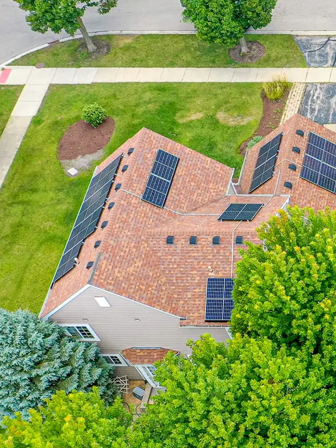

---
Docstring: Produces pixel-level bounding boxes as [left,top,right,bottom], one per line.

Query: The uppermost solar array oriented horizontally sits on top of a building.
[219,203,268,217]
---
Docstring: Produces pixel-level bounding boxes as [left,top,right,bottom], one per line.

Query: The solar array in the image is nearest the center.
[149,148,183,206]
